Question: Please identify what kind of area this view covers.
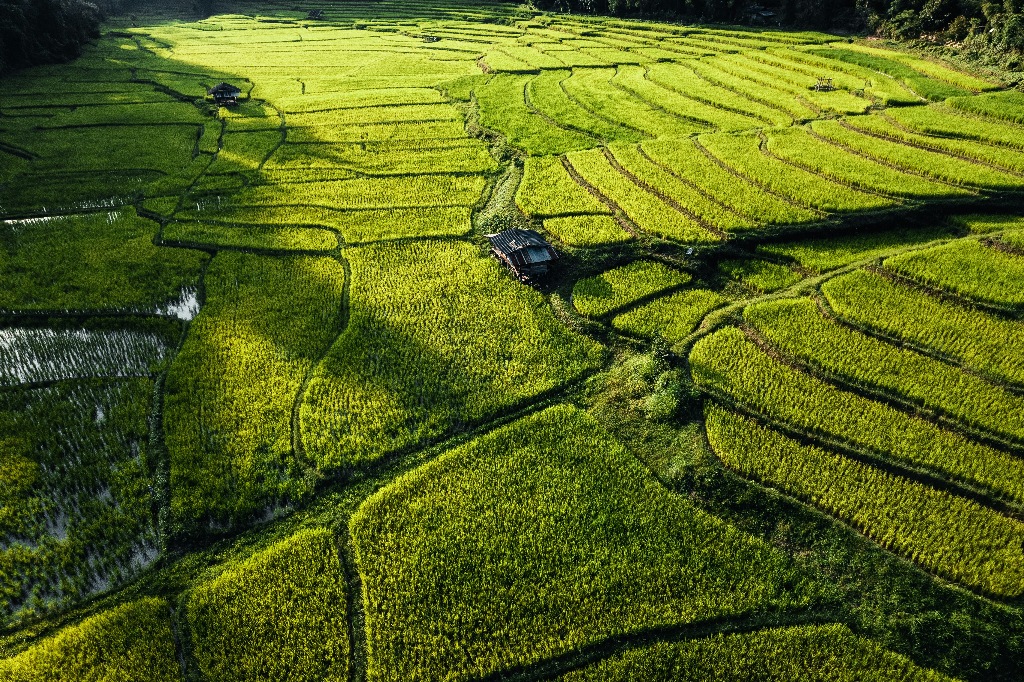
farmland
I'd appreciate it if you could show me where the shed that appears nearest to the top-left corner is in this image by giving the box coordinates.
[205,81,247,107]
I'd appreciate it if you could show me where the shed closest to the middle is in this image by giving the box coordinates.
[478,227,559,279]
